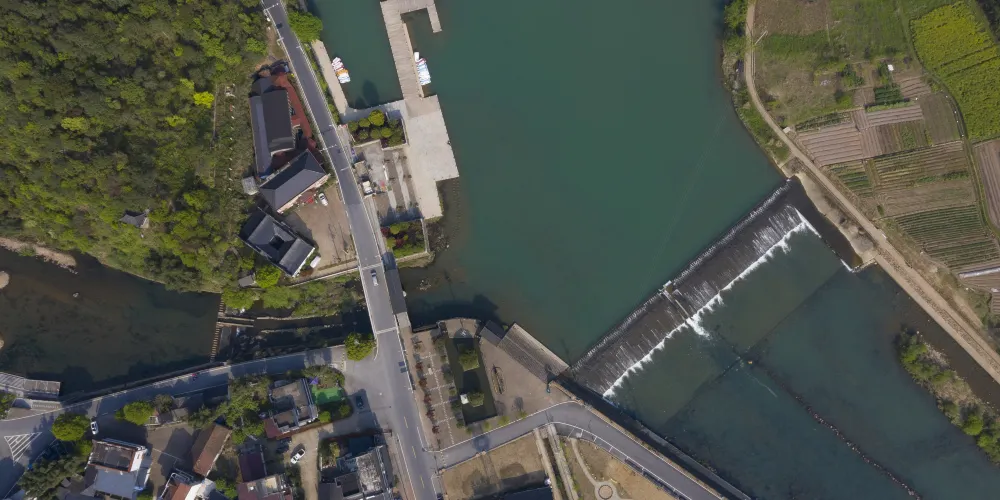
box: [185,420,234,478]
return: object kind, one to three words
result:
house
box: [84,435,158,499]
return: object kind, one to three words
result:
house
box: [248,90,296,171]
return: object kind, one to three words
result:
building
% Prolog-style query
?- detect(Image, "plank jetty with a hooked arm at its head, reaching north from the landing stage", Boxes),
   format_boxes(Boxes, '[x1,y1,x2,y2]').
[380,0,441,101]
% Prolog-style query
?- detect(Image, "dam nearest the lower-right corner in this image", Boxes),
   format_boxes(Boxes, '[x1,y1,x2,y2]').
[571,178,857,396]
